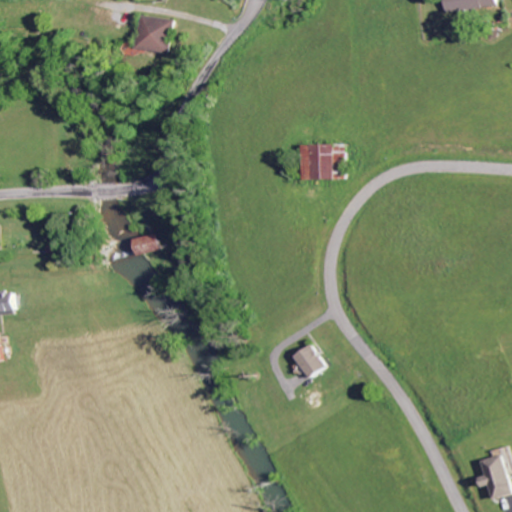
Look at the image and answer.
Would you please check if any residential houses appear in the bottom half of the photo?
Yes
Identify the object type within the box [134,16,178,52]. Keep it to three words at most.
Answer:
house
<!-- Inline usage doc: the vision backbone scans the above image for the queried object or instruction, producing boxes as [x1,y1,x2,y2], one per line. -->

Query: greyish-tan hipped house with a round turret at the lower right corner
[477,446,512,499]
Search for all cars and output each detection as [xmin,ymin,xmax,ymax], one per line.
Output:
[301,378,311,386]
[502,498,509,510]
[121,12,128,22]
